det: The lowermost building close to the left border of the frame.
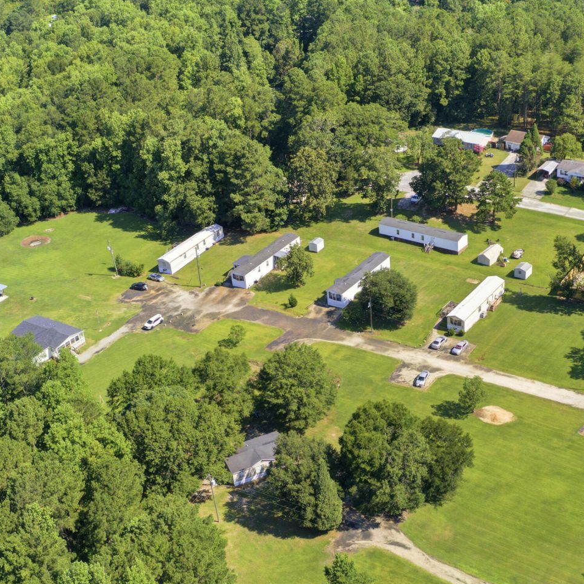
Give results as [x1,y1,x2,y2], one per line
[5,315,87,354]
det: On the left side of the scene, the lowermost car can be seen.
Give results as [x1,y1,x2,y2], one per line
[143,313,163,327]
